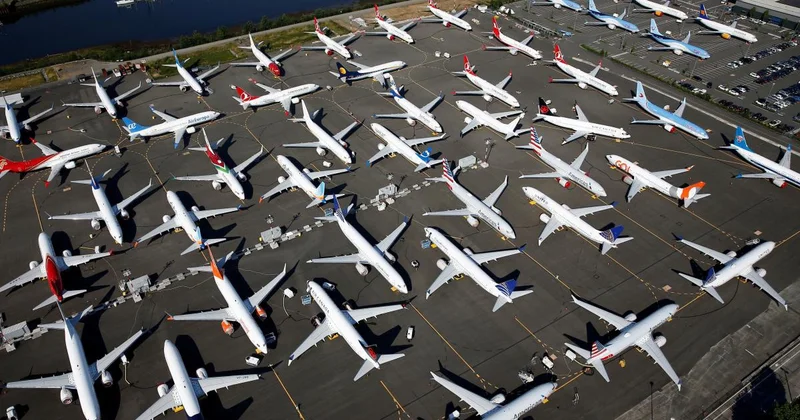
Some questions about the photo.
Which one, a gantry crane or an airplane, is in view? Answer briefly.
airplane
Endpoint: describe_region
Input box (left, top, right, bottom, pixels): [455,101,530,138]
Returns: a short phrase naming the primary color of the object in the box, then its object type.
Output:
white airplane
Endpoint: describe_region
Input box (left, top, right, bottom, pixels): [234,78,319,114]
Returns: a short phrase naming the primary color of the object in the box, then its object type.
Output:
white airplane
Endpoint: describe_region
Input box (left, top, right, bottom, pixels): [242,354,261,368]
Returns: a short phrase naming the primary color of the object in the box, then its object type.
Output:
white vehicle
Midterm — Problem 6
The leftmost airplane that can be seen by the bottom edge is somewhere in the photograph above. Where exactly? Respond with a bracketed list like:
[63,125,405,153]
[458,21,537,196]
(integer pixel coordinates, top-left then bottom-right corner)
[0,301,148,420]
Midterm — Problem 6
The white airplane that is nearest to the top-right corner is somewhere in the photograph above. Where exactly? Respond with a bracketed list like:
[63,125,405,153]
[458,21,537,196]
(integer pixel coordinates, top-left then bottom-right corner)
[691,5,756,44]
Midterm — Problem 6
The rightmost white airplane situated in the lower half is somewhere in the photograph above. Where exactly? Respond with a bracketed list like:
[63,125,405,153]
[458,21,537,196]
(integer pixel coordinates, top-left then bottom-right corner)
[679,233,792,307]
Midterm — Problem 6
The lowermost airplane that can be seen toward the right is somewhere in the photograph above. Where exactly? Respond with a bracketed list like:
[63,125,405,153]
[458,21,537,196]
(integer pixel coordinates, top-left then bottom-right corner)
[428,369,556,420]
